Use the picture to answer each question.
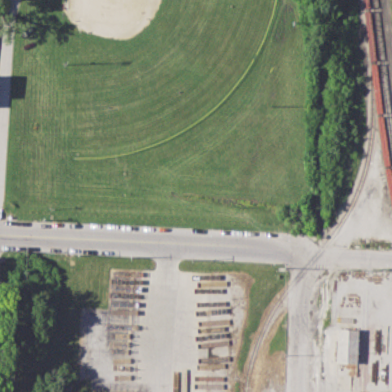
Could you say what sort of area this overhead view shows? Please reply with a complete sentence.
It's a sports ground.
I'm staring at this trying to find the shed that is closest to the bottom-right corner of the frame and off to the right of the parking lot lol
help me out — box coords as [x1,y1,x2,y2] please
[336,329,360,364]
